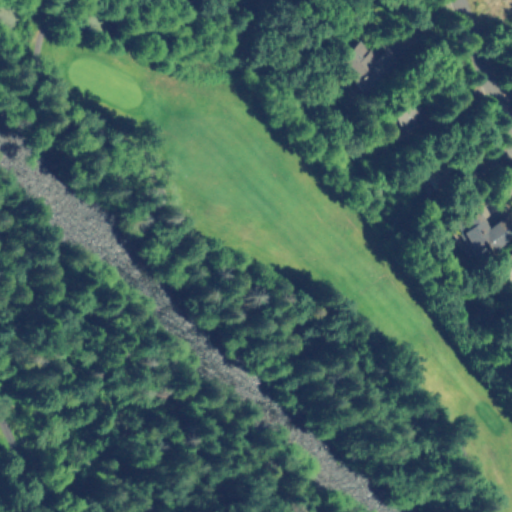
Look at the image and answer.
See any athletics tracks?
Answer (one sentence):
No, no athletics track is visible in the view.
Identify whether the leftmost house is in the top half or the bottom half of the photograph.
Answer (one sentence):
It is in the top half that the leftmost house appears.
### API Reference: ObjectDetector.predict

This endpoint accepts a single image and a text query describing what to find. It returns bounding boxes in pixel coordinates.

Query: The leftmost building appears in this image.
[350,42,377,77]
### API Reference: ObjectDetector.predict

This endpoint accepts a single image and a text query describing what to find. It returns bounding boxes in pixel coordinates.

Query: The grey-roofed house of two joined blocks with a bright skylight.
[466,222,511,249]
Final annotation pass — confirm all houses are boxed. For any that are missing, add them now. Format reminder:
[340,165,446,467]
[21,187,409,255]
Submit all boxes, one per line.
[350,42,377,77]
[398,106,420,127]
[466,222,511,249]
